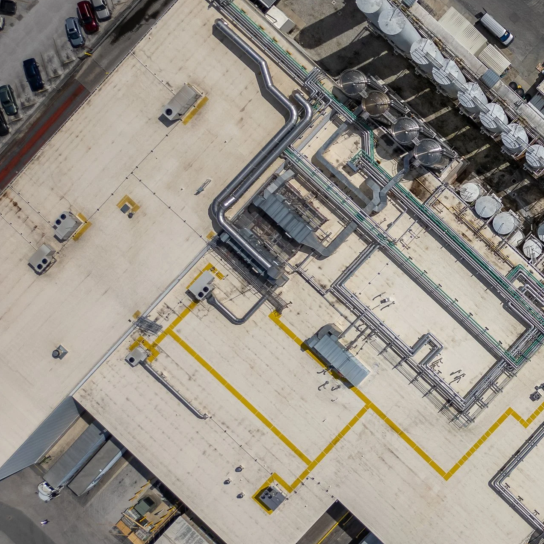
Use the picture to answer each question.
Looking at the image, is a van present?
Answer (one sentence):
Yes, a van is visible in the scene.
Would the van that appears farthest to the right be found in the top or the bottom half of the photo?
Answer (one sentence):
It is in the top half that the van that appears farthest to the right appears.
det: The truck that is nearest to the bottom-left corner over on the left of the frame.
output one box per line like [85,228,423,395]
[36,474,76,503]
